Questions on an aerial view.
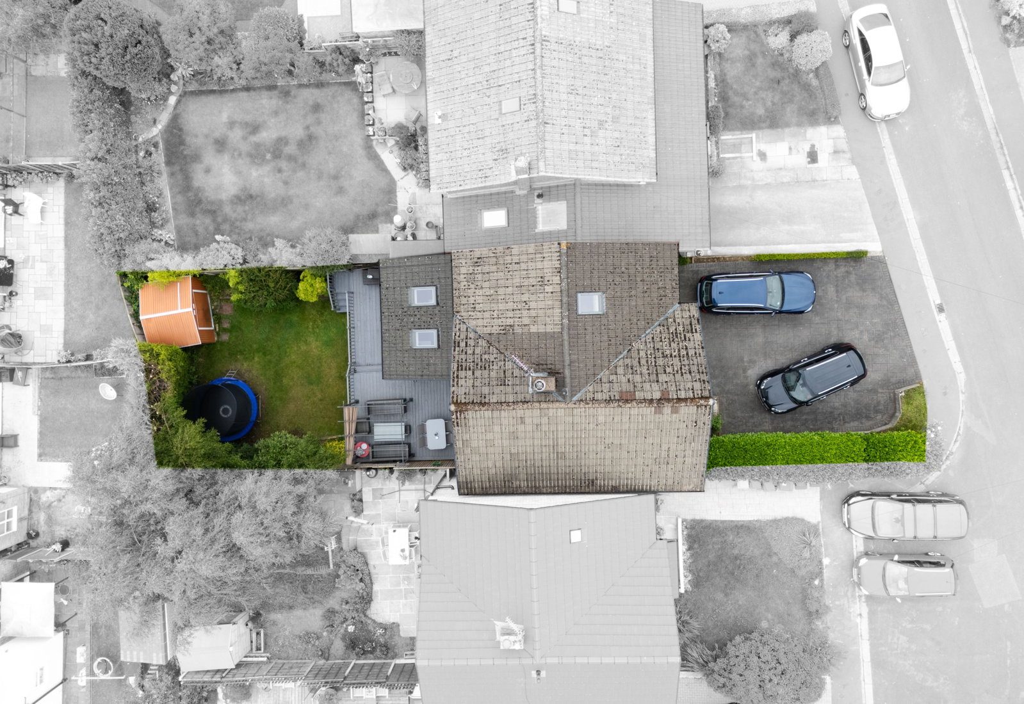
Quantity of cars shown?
5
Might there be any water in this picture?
No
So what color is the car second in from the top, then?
blue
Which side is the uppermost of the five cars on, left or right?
right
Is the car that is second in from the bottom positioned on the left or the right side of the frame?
right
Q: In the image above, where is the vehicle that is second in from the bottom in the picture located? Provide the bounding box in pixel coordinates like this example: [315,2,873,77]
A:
[840,489,969,546]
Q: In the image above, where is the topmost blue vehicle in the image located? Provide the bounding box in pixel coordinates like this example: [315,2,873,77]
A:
[697,265,815,320]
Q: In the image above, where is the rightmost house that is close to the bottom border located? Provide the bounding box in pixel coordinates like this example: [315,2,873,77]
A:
[414,481,682,704]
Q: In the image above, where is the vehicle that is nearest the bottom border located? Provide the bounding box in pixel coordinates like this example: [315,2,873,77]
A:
[852,551,957,605]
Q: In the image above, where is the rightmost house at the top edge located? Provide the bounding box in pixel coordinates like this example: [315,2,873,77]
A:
[420,0,712,257]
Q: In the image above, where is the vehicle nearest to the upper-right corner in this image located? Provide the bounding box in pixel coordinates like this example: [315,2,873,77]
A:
[841,2,913,123]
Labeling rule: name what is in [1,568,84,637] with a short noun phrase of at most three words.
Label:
gazebo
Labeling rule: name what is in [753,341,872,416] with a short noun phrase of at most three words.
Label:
car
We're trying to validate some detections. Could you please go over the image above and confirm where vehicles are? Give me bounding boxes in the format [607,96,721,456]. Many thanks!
[697,265,815,320]
[852,551,957,605]
[840,489,969,546]
[753,341,872,416]
[841,2,913,123]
